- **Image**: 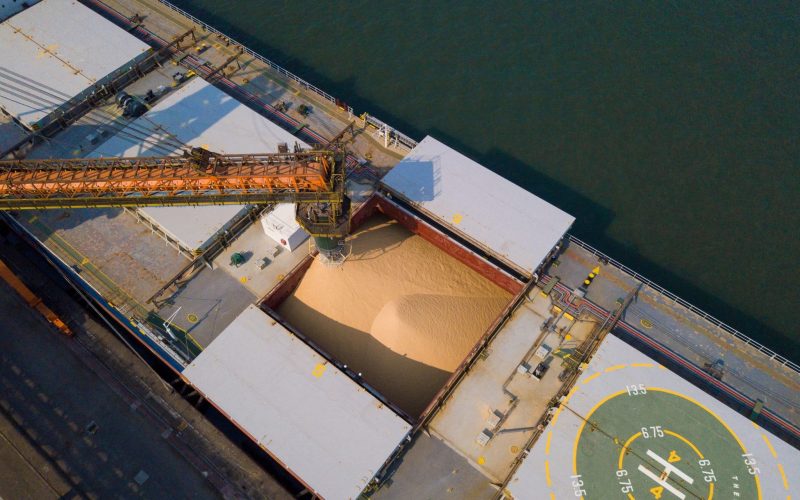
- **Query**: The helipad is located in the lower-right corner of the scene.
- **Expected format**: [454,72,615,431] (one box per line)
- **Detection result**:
[545,363,790,500]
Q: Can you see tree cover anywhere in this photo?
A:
No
